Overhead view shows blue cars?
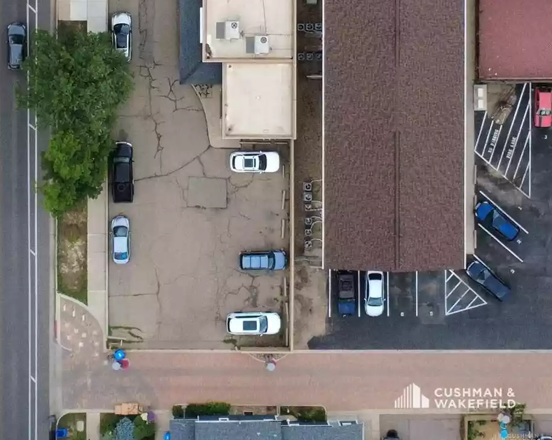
Yes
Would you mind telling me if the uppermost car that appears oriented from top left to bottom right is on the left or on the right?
right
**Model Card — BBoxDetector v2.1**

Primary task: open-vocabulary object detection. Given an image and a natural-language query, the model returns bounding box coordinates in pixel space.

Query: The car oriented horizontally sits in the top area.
[228,150,281,175]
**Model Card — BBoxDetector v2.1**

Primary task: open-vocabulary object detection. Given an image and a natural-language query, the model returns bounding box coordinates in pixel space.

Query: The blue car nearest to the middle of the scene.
[237,248,288,273]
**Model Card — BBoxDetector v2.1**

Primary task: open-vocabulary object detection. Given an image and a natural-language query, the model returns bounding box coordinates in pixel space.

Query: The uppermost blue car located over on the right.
[472,200,523,242]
